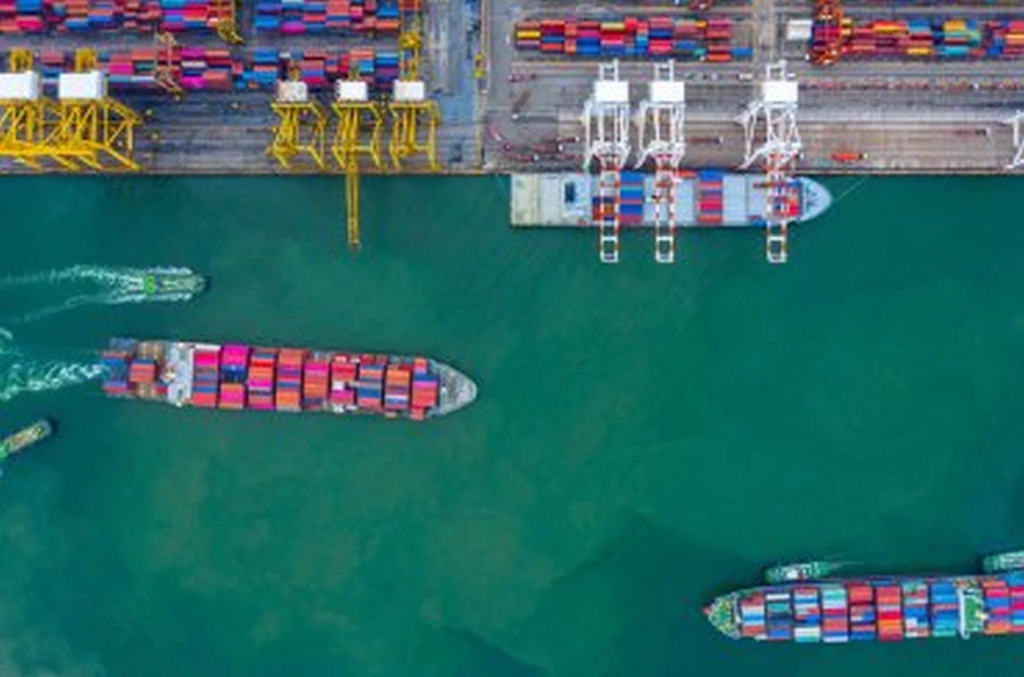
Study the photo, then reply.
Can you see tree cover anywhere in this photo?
No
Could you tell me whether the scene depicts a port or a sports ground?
port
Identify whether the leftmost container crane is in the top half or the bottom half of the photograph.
top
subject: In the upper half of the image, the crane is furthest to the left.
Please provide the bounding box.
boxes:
[0,45,84,167]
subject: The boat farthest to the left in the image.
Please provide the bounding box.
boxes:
[0,421,53,464]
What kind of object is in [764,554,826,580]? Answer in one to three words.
boat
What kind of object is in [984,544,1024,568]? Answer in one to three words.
boat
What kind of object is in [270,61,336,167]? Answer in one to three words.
container crane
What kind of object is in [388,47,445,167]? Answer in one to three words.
container crane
